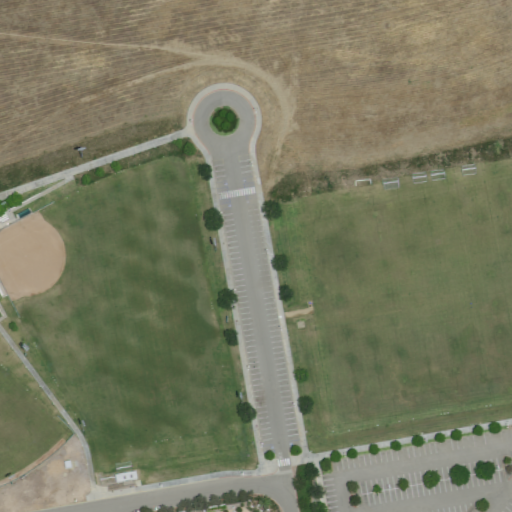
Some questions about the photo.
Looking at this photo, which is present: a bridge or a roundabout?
roundabout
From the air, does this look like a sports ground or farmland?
sports ground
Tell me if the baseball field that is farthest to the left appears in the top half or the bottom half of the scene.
bottom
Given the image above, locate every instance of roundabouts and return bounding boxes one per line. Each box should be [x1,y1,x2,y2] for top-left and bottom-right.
[193,89,256,140]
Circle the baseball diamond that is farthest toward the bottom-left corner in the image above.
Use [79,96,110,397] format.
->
[0,332,74,485]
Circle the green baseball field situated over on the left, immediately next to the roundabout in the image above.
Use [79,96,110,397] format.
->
[0,138,258,487]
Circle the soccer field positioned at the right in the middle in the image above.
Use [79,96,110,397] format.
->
[264,158,512,453]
